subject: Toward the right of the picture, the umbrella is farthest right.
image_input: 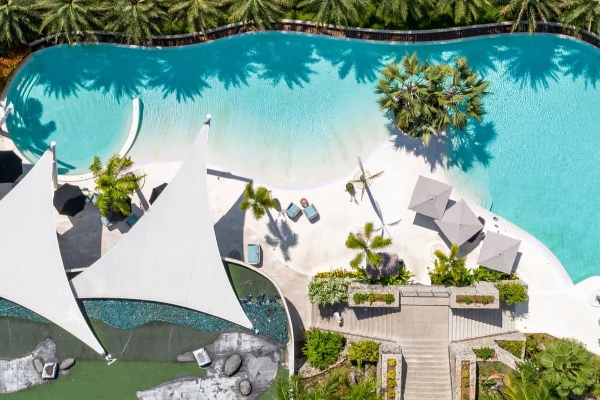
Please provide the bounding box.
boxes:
[477,230,521,274]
